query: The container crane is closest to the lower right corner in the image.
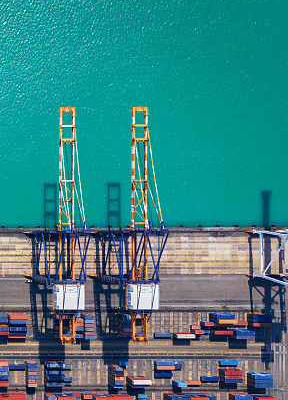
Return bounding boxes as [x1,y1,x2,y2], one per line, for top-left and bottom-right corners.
[242,230,288,281]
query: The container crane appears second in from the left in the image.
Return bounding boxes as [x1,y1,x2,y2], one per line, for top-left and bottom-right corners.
[89,106,169,345]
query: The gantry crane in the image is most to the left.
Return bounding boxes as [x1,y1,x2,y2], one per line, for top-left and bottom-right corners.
[24,107,93,345]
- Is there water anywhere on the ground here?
Yes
